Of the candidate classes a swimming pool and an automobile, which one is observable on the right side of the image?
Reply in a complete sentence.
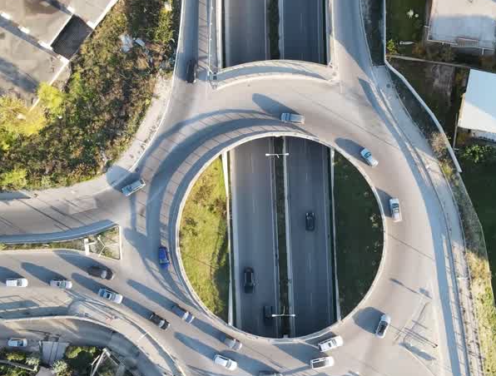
There is an automobile on the right side of the image.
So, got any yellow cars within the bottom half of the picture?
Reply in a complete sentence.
No, looking within the bottom half of the picture, there is no yellow car.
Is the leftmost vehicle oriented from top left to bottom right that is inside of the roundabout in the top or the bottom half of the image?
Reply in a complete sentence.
It is in the bottom half that the leftmost vehicle oriented from top left to bottom right that is inside of the roundabout appears.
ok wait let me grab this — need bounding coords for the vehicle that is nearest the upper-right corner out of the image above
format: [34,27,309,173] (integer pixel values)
[359,147,378,166]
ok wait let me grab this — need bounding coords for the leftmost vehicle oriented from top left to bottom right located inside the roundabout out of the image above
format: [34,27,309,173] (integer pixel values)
[148,310,172,330]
